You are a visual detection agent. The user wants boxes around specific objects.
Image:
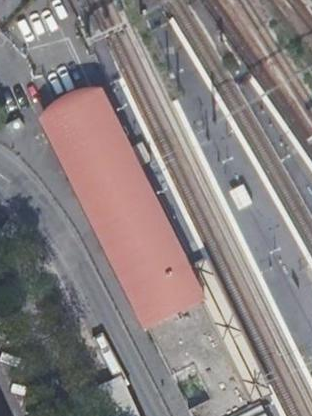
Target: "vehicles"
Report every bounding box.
[30,12,46,36]
[98,334,122,372]
[17,18,34,42]
[0,352,21,366]
[42,9,58,32]
[52,0,68,18]
[2,88,16,110]
[47,70,63,93]
[14,86,28,107]
[27,82,40,102]
[57,64,73,88]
